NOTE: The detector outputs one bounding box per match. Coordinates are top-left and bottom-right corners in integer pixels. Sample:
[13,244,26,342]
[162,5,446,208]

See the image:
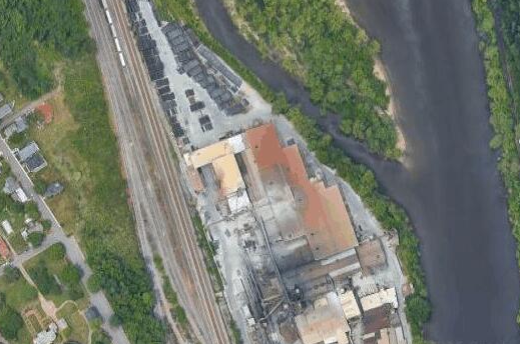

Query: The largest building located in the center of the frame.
[245,124,358,261]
